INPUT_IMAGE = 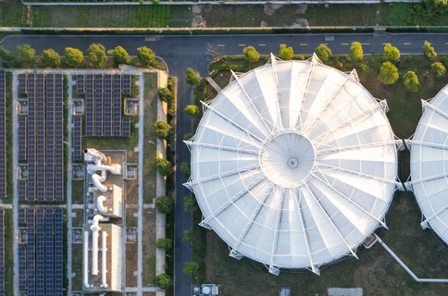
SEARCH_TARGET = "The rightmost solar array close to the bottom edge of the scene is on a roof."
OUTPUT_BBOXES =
[18,208,64,296]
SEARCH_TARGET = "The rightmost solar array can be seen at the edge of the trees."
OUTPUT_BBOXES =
[74,74,131,160]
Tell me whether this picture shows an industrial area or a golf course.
industrial area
